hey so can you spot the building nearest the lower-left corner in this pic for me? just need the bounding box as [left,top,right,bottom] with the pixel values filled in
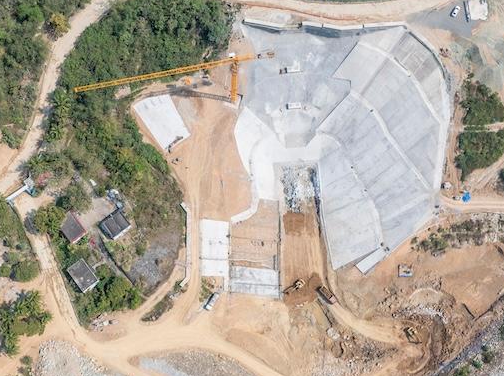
[66,258,99,292]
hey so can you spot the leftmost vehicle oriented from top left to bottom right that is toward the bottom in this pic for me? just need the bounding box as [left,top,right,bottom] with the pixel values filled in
[317,282,338,303]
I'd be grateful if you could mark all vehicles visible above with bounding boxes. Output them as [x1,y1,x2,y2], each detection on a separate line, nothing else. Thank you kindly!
[449,3,462,18]
[406,324,418,346]
[286,278,307,293]
[317,282,338,303]
[204,291,218,310]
